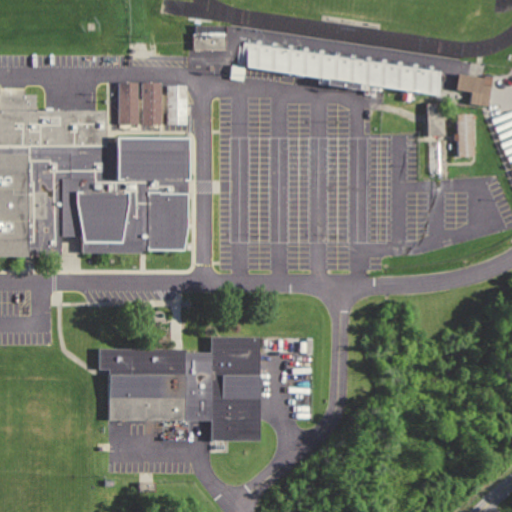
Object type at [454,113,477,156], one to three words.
shed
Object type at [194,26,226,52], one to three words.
building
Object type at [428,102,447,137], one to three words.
building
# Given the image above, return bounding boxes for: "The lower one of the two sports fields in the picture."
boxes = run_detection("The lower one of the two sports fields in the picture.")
[0,345,142,512]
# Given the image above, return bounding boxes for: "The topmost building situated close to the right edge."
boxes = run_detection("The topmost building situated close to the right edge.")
[458,74,493,106]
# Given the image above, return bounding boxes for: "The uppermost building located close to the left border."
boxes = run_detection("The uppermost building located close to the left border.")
[0,87,190,258]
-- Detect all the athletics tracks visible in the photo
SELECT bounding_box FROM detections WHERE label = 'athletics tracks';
[161,0,512,58]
